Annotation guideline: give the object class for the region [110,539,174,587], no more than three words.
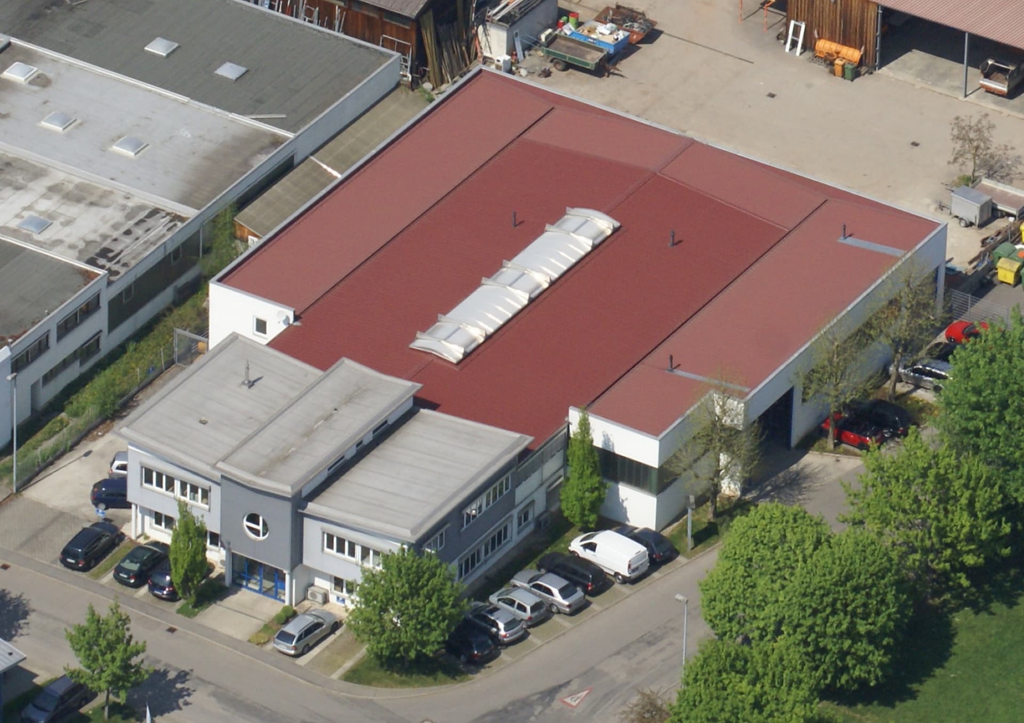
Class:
car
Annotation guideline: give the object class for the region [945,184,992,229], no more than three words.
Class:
trailer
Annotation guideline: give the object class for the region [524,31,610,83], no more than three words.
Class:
trailer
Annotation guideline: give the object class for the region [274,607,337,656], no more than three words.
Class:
car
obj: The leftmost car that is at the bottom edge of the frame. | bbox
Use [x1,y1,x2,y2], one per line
[22,678,88,723]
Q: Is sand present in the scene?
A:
No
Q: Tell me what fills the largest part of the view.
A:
buildings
